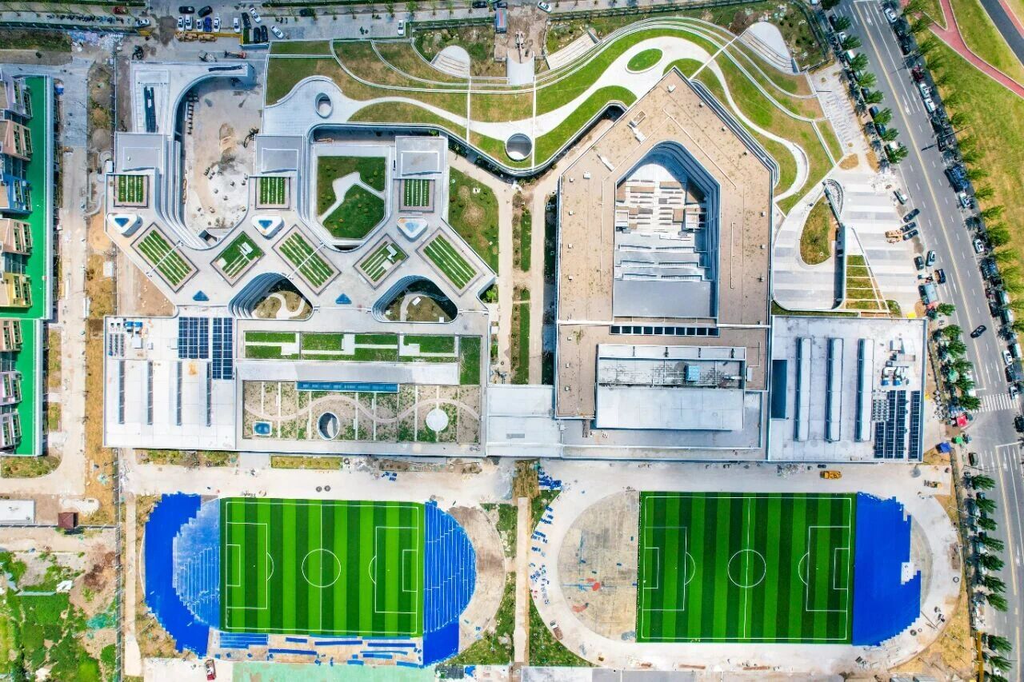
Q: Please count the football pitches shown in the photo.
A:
2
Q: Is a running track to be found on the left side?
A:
Yes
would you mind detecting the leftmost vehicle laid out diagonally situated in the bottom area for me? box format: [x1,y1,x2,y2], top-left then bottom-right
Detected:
[549,622,564,641]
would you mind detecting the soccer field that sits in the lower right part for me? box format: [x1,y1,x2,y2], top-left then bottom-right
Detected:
[637,492,856,645]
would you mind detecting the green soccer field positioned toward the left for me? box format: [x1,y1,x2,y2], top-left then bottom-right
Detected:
[220,497,424,638]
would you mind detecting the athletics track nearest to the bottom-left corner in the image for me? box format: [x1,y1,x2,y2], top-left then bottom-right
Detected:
[138,489,508,666]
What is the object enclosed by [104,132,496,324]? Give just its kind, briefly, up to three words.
building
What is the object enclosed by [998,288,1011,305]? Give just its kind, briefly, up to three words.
vehicle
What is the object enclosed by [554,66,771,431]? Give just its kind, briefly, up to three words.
building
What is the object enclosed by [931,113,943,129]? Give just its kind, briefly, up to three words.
vehicle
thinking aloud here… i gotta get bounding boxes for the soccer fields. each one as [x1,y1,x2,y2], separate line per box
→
[637,492,856,645]
[220,497,424,638]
